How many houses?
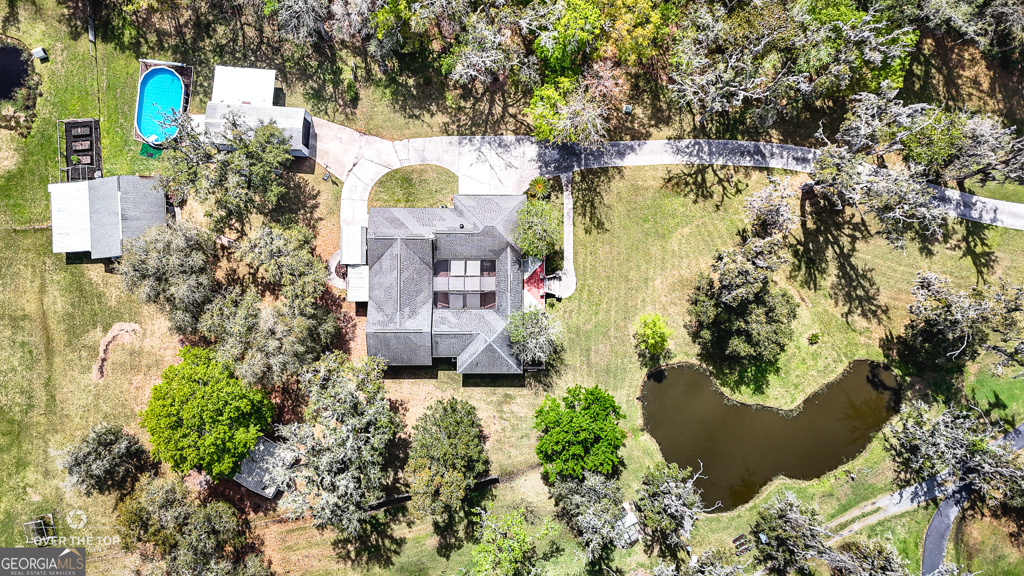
two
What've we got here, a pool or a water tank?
pool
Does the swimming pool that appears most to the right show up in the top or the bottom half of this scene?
top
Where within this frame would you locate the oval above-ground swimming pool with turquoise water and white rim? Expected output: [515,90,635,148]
[136,66,188,144]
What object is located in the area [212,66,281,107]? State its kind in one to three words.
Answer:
shed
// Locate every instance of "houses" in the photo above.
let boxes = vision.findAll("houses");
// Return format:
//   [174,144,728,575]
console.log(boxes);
[366,194,527,374]
[49,176,175,261]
